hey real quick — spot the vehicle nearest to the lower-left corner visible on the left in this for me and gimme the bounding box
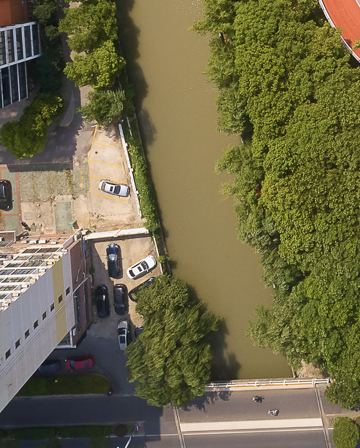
[34,360,64,375]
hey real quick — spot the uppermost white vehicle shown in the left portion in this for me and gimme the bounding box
[97,181,128,198]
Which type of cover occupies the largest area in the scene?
trees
